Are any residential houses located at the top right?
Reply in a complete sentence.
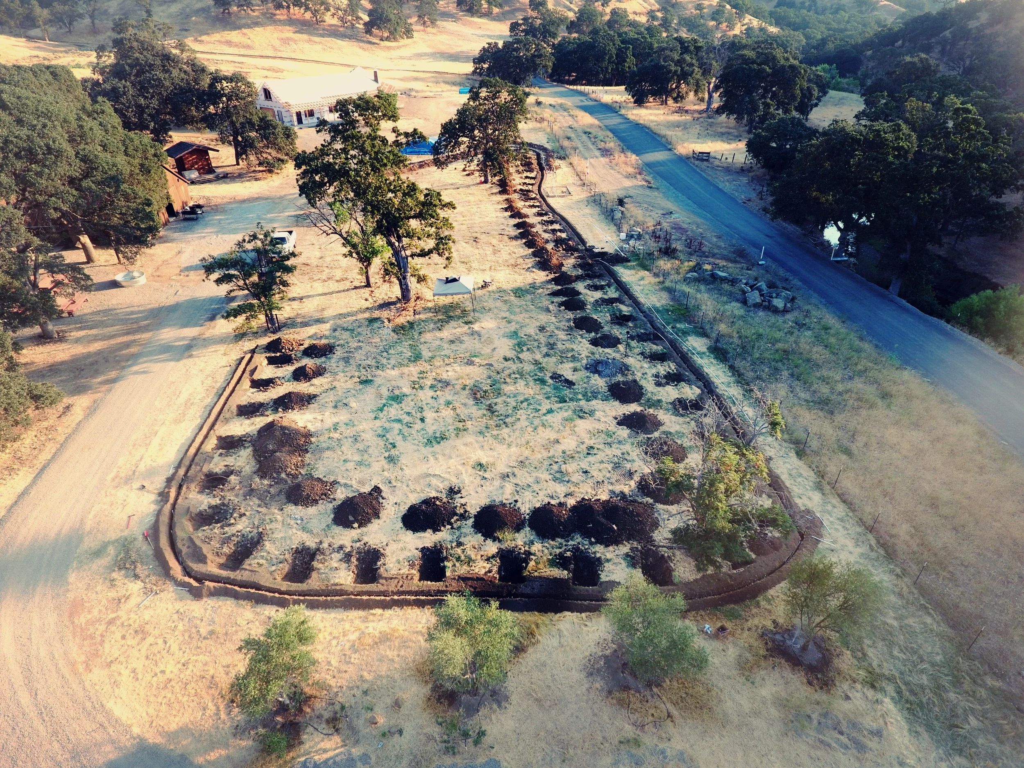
No, no residential house appears at the top right.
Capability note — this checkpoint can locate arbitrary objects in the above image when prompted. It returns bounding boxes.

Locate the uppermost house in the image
[260,39,390,128]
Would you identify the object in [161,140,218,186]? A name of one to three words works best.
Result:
building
